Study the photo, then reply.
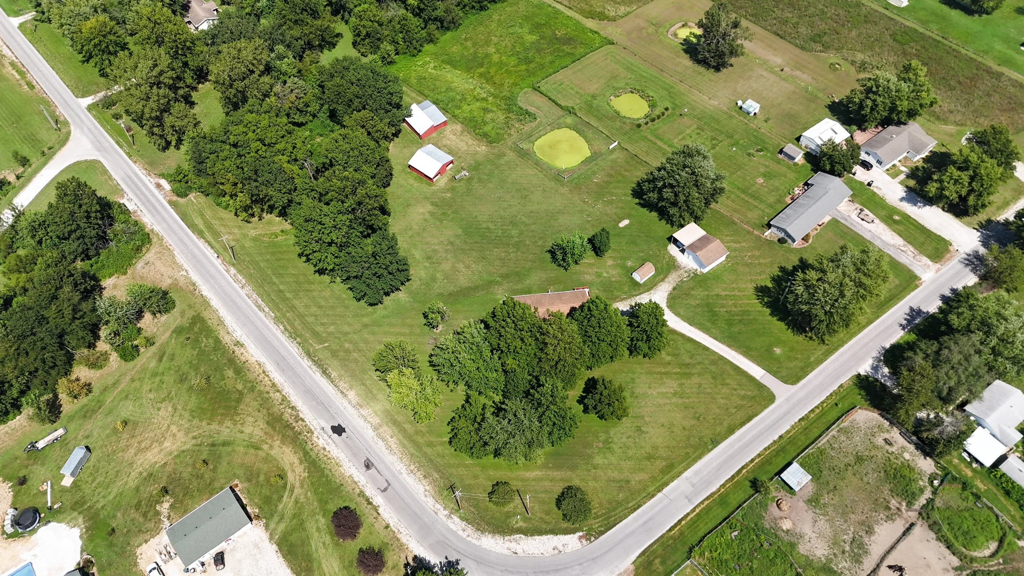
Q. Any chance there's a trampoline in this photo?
Yes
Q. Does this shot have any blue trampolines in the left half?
No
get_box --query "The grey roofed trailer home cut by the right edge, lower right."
[994,454,1024,499]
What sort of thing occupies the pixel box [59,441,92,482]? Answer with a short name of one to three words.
trailer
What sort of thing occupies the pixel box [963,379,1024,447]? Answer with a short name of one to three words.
house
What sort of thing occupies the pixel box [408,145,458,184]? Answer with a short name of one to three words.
barn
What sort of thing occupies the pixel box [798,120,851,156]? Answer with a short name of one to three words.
building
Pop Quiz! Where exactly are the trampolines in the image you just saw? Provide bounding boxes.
[9,505,39,530]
